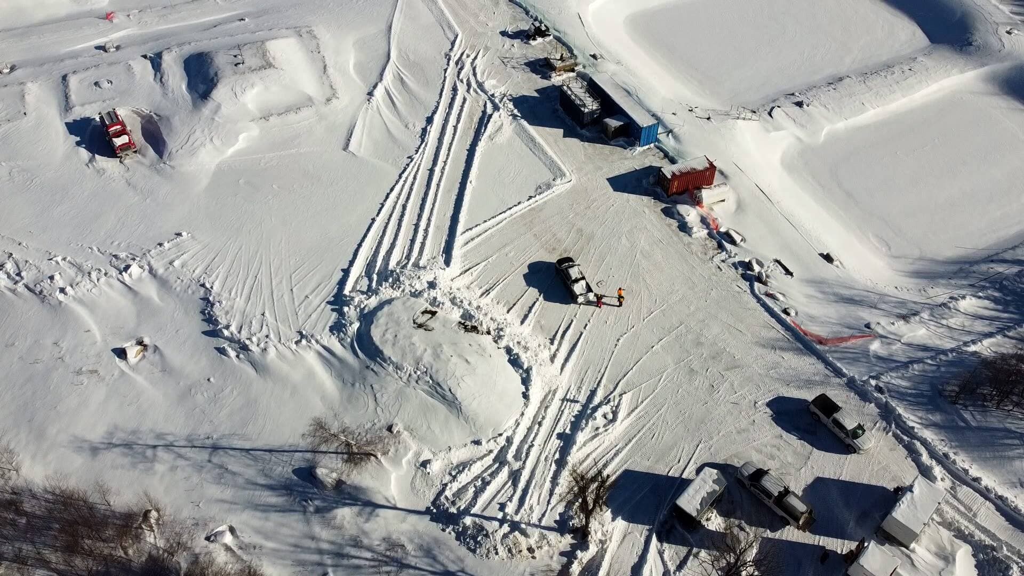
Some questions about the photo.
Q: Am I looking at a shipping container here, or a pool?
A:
shipping container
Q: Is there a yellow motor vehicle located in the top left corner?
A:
No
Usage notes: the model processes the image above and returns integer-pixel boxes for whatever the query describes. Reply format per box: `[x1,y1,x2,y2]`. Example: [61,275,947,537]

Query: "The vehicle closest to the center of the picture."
[556,257,595,307]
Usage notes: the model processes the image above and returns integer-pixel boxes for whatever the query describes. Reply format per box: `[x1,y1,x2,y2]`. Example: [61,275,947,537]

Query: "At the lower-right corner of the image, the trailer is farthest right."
[886,472,949,539]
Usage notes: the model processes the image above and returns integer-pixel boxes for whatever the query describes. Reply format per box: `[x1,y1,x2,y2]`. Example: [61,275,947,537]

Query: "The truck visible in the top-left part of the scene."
[100,113,141,163]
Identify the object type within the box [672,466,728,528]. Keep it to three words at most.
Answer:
trailer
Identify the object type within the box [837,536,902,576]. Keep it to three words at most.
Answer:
trailer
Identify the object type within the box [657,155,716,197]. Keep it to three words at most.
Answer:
shipping container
